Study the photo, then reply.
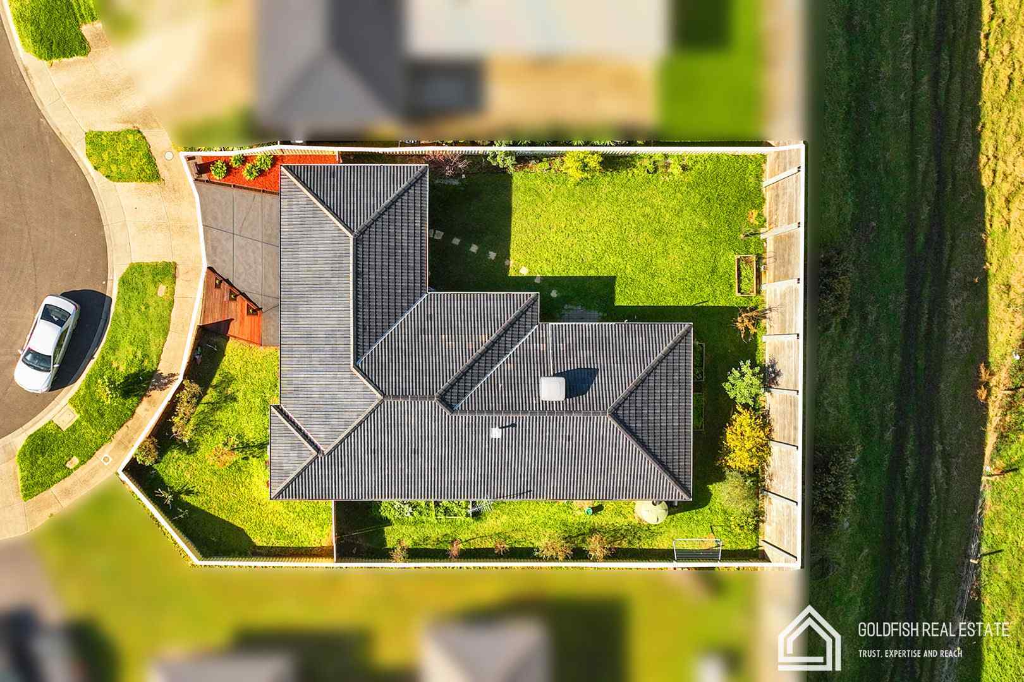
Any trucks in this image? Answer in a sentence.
No, there appears to be no truck in this shot.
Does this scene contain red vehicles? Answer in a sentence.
No, no red vehicle is visible in the scene.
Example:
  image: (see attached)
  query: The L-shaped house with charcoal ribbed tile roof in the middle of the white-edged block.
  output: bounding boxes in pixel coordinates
[267,161,695,503]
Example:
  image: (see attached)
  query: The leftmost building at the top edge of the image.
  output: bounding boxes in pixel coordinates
[254,0,406,125]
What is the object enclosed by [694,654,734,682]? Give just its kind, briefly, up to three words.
shed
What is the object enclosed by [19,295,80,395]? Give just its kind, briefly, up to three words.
car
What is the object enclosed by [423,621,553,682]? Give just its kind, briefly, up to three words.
house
